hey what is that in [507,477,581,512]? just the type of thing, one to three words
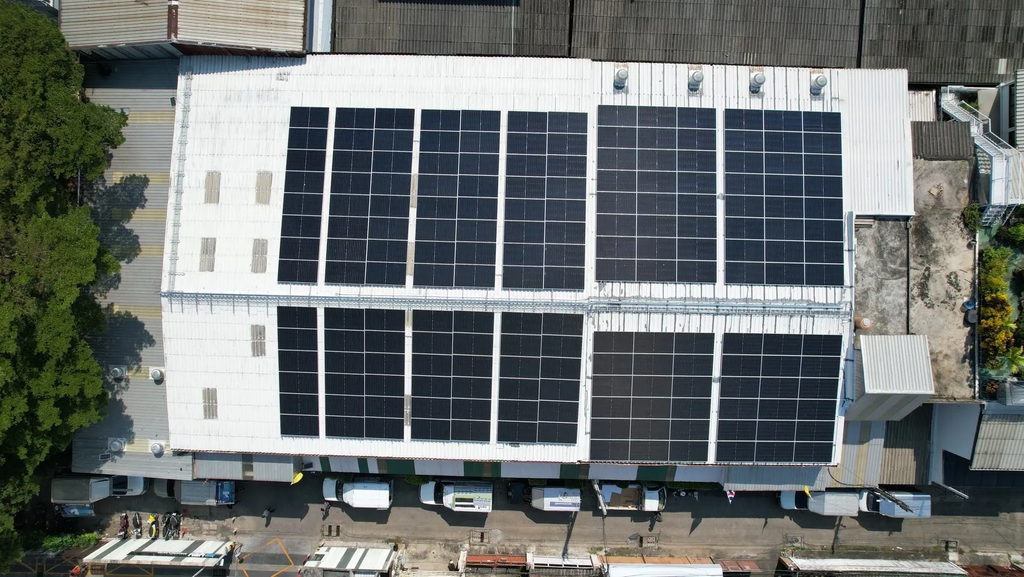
truck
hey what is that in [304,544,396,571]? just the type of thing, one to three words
house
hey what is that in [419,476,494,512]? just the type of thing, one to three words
truck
